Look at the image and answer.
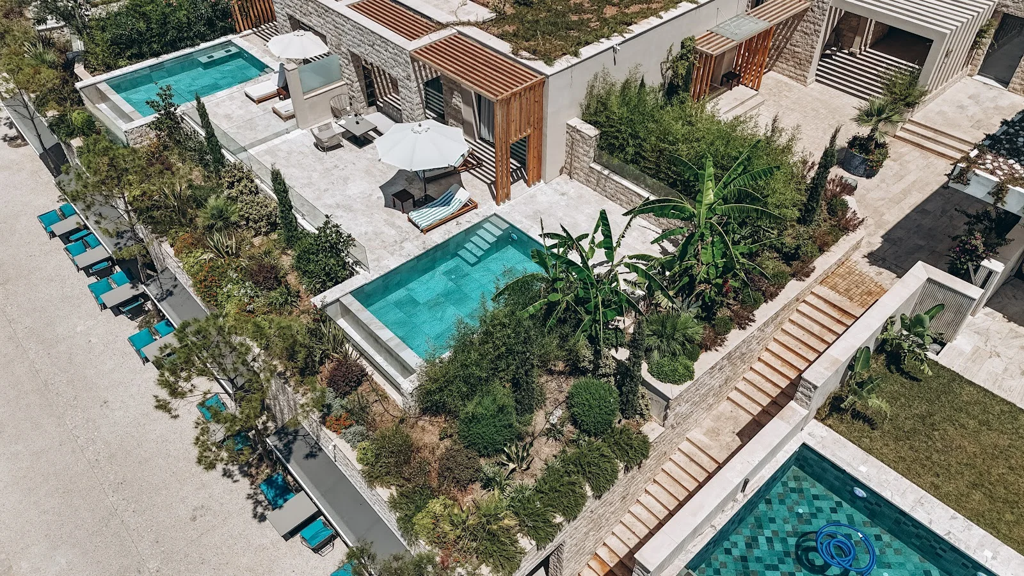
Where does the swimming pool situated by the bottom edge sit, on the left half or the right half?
right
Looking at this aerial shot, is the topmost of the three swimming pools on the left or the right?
left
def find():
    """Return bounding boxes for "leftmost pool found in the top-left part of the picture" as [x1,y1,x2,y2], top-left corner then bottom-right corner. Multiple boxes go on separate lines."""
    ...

[87,31,288,144]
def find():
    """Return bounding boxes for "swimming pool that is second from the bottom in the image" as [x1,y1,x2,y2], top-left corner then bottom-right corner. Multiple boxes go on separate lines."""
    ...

[310,203,593,428]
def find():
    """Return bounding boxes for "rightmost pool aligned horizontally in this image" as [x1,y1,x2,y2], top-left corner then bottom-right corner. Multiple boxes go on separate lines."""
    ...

[655,417,1024,576]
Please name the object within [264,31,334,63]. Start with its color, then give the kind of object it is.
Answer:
white umbrella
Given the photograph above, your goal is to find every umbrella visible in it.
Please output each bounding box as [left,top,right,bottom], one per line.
[368,118,471,207]
[264,31,334,63]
